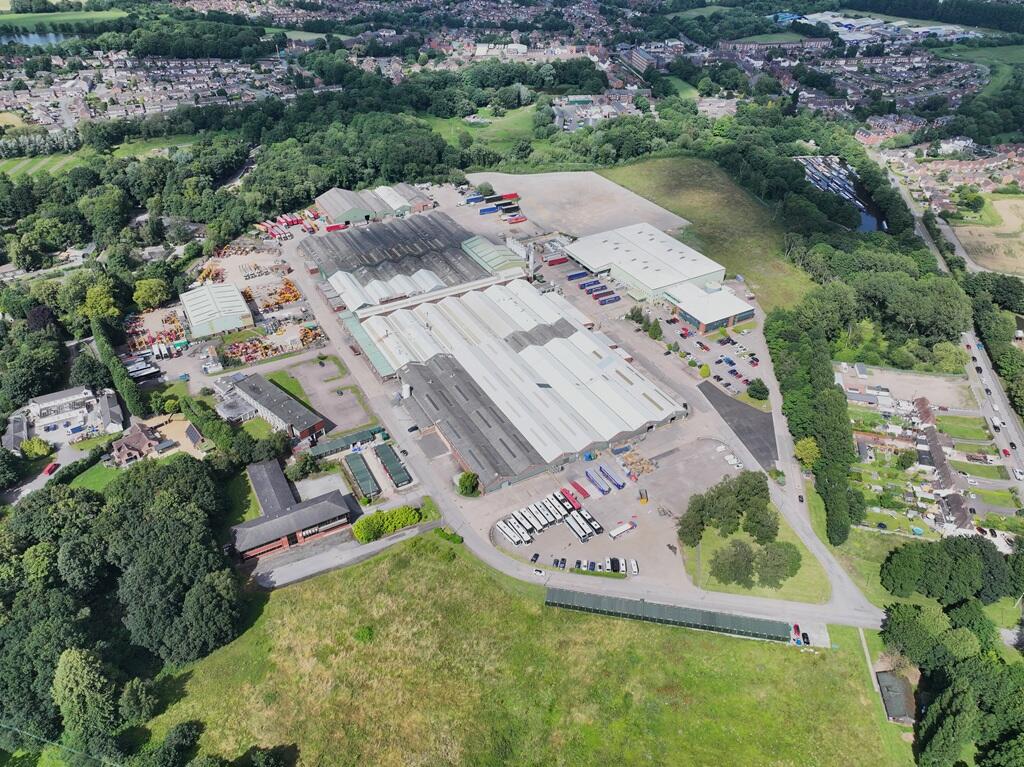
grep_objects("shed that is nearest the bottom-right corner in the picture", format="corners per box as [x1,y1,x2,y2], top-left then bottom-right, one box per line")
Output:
[874,672,915,723]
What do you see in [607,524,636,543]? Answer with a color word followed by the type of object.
white vehicle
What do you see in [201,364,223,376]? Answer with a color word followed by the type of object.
white vehicle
